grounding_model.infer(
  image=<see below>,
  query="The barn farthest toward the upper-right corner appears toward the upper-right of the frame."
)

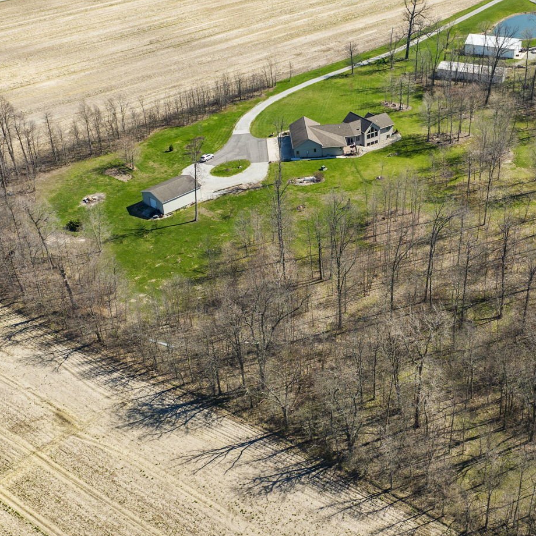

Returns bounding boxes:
[464,35,519,58]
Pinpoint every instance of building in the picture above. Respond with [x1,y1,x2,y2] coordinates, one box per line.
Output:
[435,61,505,83]
[139,172,204,213]
[289,107,396,157]
[464,35,519,58]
